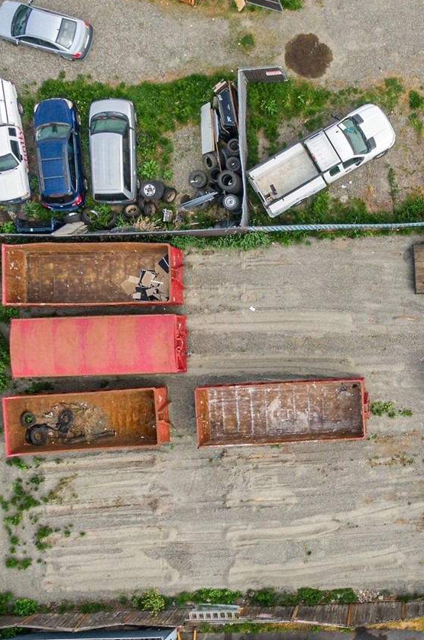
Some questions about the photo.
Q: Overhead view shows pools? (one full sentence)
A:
No, the picture doesn't show any pool.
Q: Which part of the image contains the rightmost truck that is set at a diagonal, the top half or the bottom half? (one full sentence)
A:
Seen from above, the rightmost truck that is set at a diagonal lies in the top half of the view.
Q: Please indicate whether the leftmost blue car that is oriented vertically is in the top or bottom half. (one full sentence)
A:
You can find the leftmost blue car that is oriented vertically in the top half.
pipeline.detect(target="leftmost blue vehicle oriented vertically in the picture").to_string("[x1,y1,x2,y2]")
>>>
[27,99,90,211]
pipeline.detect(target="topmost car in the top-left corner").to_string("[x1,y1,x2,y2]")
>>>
[0,0,96,62]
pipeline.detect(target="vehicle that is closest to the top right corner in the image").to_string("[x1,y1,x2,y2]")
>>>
[248,105,394,219]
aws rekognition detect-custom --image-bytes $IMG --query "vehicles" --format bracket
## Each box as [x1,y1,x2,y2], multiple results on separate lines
[0,79,35,203]
[27,99,90,211]
[248,105,394,219]
[82,100,142,205]
[0,0,96,62]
